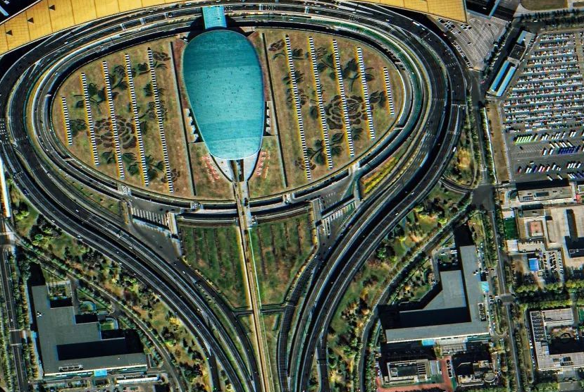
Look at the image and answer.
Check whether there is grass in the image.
Yes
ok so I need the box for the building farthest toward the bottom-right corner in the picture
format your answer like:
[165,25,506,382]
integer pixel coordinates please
[530,308,584,389]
